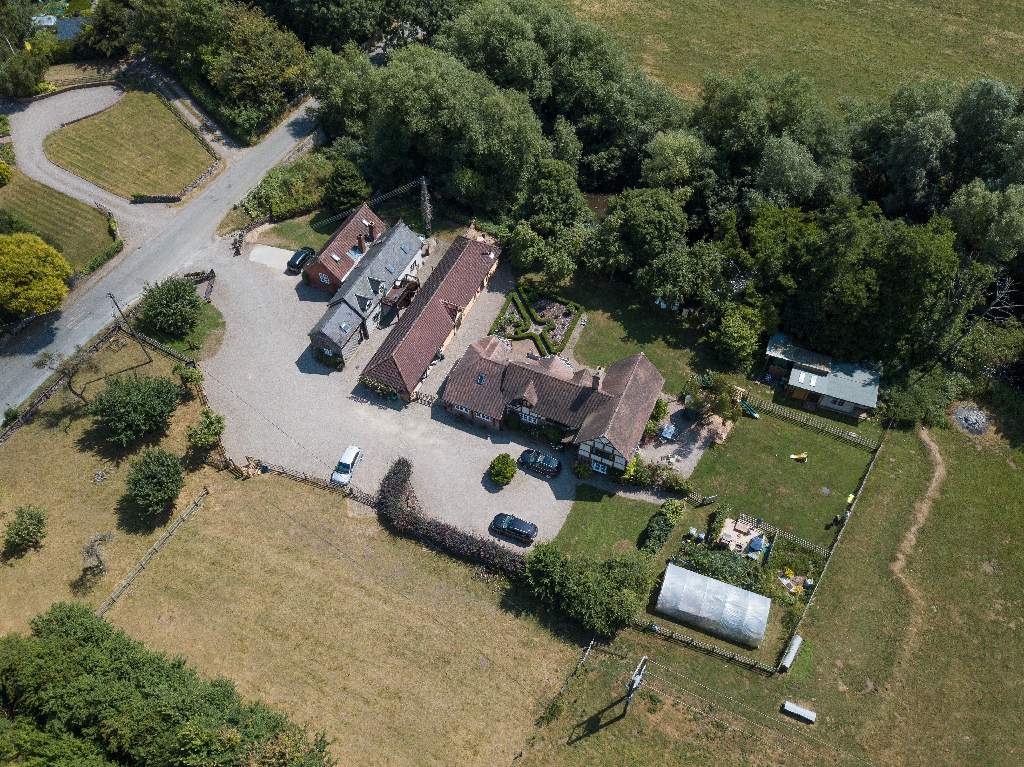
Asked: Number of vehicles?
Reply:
4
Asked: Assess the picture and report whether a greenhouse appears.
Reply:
Yes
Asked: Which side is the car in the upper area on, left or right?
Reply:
left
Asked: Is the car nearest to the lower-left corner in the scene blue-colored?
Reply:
No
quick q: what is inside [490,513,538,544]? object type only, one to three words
car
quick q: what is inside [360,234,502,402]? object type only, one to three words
barn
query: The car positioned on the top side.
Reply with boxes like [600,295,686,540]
[286,248,315,271]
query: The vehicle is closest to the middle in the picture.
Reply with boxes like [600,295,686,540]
[518,447,562,475]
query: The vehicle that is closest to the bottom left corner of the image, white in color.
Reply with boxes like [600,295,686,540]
[332,446,365,484]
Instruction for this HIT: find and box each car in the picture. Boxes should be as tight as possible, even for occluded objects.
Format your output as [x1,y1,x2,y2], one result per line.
[332,446,365,484]
[286,248,315,271]
[518,447,562,475]
[490,513,538,544]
